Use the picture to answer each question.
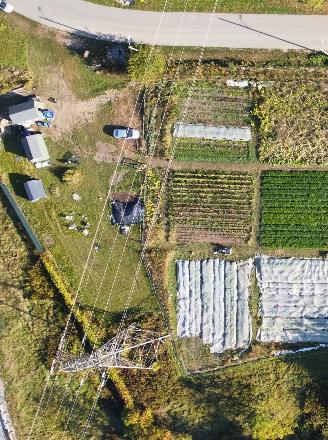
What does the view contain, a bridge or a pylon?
pylon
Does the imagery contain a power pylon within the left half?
Yes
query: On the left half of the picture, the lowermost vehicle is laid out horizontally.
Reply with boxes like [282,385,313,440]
[113,129,141,141]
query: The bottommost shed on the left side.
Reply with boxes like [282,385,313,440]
[21,179,51,202]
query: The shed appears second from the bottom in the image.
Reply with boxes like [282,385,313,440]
[18,134,52,165]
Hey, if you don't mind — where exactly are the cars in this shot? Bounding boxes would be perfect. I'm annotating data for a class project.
[113,129,141,141]
[0,0,14,13]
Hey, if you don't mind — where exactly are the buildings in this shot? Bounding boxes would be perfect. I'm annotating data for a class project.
[21,179,51,202]
[18,134,52,165]
[3,97,44,125]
